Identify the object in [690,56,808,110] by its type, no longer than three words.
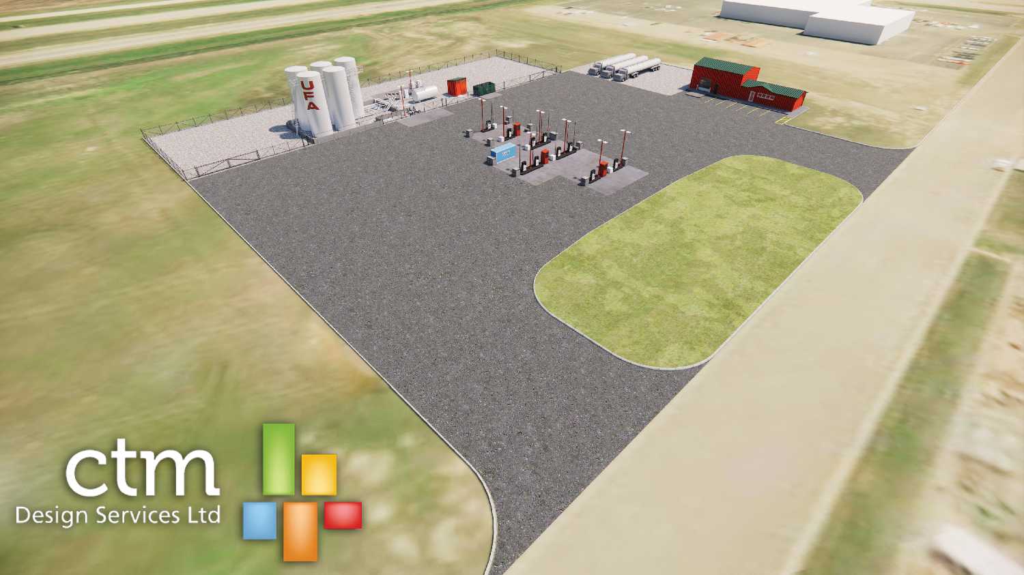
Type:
building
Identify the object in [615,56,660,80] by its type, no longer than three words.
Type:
truck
